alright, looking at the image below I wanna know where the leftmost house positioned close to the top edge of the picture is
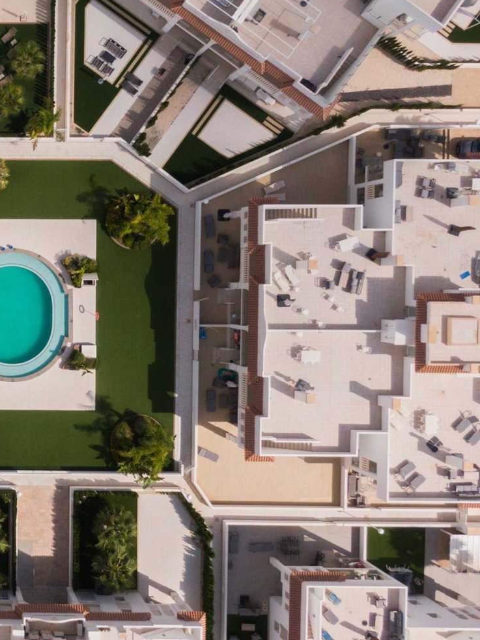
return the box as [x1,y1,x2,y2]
[129,0,388,134]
